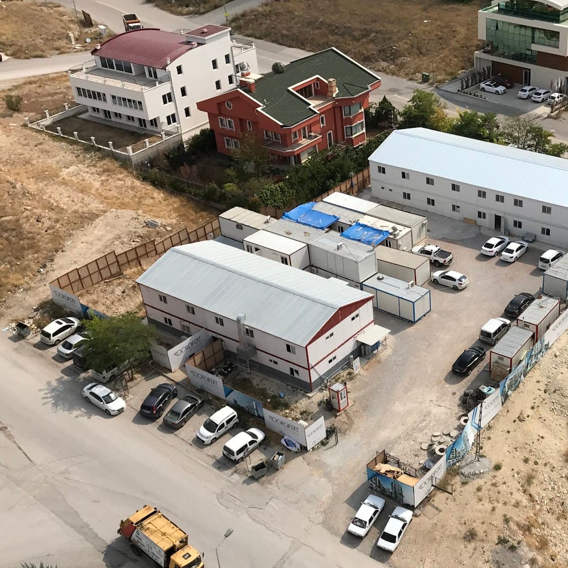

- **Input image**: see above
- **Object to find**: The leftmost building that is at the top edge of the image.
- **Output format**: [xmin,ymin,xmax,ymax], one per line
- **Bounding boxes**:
[68,13,263,155]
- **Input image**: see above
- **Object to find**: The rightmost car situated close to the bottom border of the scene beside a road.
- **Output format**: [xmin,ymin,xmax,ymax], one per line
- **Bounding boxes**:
[376,505,415,551]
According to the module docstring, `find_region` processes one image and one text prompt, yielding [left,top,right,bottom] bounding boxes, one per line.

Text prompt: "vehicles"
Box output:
[161,397,205,426]
[493,77,515,89]
[409,243,454,266]
[479,236,513,258]
[108,501,207,568]
[223,428,266,460]
[451,343,491,376]
[500,242,532,263]
[92,356,130,381]
[376,505,415,551]
[518,86,539,98]
[479,314,514,344]
[70,348,101,370]
[196,400,242,442]
[55,334,94,359]
[40,318,83,342]
[537,246,565,268]
[139,384,180,416]
[77,384,129,415]
[503,291,539,316]
[430,271,470,290]
[479,81,507,95]
[348,495,387,539]
[531,88,552,102]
